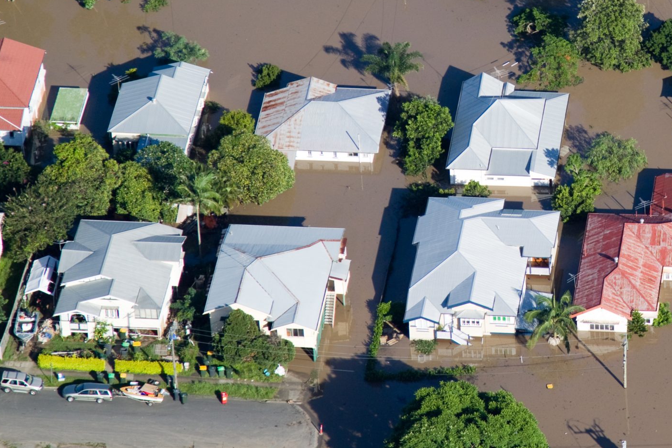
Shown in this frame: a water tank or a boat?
boat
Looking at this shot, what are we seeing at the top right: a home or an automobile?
home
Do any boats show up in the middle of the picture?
No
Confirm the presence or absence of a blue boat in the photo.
No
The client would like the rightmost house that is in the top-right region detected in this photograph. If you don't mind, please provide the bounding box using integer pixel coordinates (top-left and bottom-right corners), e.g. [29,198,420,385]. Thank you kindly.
[445,58,570,186]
